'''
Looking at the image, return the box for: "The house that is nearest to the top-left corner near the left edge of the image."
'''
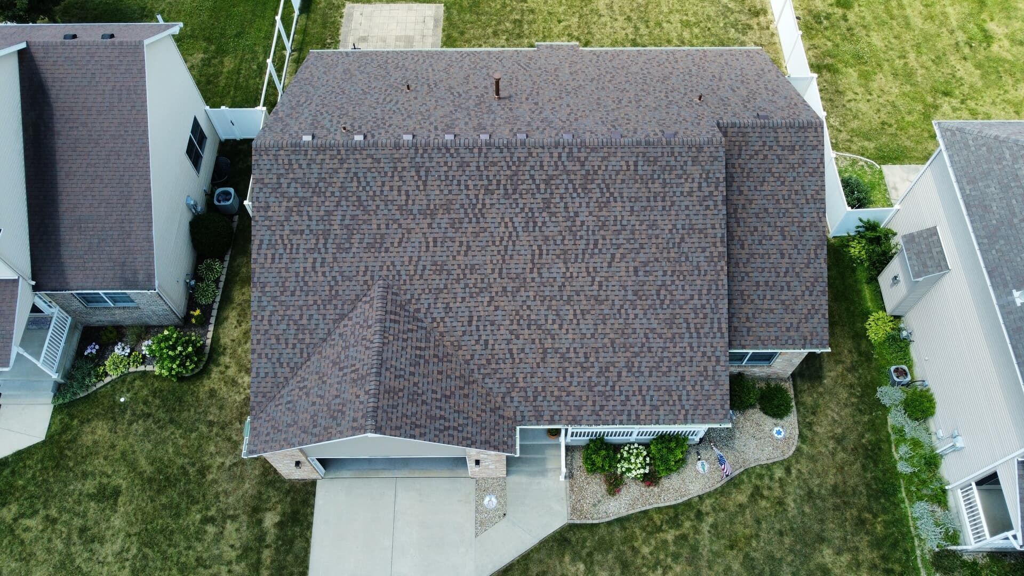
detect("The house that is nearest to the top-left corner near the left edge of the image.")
[0,21,223,403]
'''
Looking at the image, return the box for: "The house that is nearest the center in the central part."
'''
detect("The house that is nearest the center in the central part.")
[238,42,831,479]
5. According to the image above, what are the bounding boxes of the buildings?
[877,117,1024,551]
[0,21,223,403]
[238,42,831,479]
